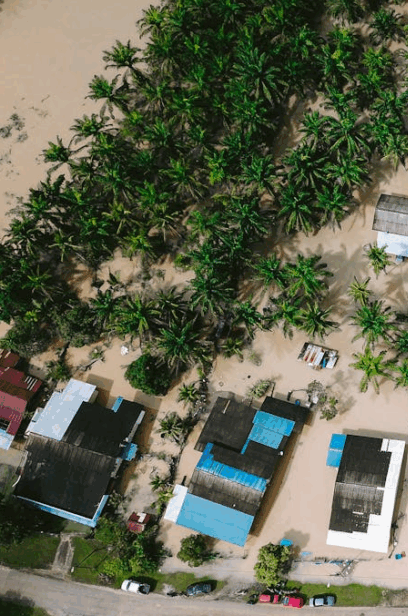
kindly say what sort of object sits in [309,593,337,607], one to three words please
car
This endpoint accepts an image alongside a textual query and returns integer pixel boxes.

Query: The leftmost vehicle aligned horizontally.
[121,578,152,594]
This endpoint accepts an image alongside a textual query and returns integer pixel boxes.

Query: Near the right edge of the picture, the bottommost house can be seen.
[326,433,405,553]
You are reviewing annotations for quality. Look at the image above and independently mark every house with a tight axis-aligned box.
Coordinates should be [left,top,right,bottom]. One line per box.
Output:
[326,433,405,553]
[372,194,408,257]
[164,396,312,547]
[15,379,149,526]
[0,349,50,450]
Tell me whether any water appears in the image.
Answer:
Yes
